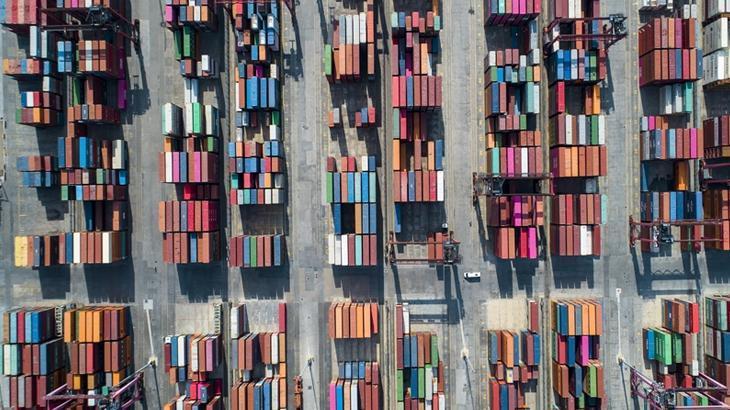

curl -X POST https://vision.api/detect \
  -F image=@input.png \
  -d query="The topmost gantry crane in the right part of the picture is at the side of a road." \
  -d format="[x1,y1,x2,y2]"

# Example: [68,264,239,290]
[543,14,634,58]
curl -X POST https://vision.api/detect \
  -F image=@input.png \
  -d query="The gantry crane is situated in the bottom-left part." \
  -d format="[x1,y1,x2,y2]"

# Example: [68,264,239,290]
[41,372,146,410]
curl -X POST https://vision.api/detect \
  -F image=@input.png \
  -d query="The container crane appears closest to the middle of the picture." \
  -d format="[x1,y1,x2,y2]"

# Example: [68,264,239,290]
[385,232,465,264]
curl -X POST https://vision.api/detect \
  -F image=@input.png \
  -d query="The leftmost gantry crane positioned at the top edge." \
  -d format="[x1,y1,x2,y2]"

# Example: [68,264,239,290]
[35,5,140,50]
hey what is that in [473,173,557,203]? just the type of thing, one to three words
container crane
